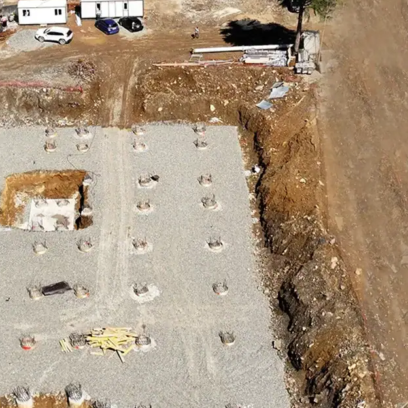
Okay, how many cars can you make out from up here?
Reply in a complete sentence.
The photo contains 3 cars.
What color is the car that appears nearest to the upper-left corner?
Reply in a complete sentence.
The color of the car that appears nearest to the upper-left corner is white.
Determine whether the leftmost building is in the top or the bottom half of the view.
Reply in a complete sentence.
Seen from above, the leftmost building lies in the top half of the view.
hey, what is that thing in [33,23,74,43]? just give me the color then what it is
white car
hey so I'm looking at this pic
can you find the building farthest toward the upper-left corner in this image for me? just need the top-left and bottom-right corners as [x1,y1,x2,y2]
[18,0,67,24]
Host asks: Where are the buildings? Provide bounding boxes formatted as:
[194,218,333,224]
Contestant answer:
[81,0,144,18]
[18,0,67,24]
